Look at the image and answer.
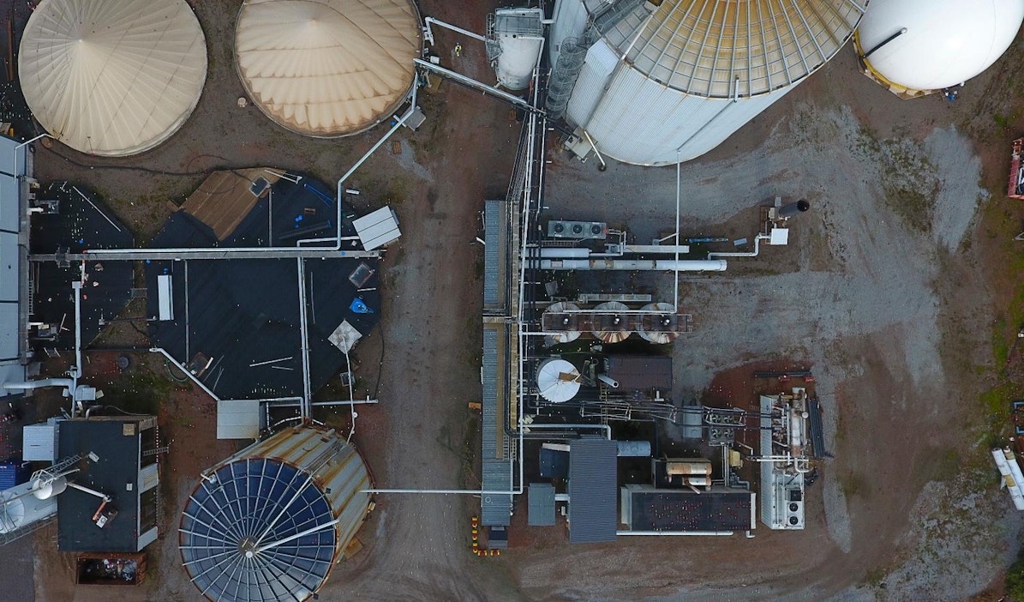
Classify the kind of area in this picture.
industrial area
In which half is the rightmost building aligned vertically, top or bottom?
bottom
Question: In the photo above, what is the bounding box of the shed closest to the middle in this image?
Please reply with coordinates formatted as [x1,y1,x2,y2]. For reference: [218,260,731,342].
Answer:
[482,201,505,311]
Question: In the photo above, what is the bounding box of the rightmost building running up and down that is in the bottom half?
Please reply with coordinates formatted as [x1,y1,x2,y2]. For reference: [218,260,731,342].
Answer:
[565,437,617,542]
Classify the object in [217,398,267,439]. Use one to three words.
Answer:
shed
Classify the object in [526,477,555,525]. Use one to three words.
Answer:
shed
